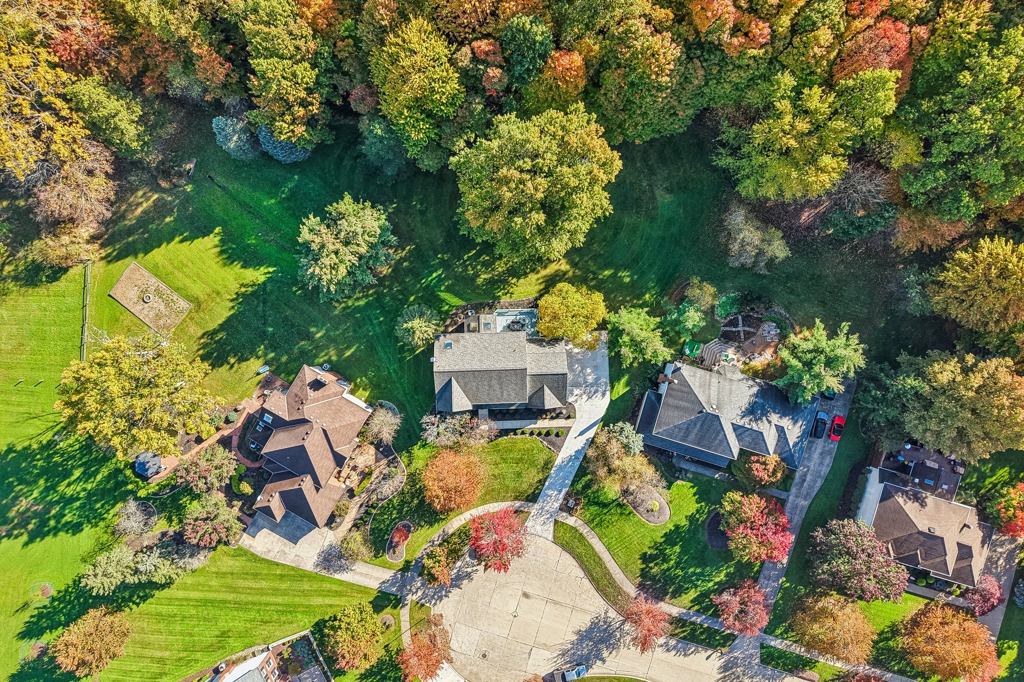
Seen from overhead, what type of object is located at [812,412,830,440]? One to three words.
car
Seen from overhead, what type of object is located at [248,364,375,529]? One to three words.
house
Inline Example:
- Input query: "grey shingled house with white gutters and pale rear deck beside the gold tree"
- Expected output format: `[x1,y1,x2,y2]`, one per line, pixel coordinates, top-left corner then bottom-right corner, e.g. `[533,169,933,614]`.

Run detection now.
[430,314,567,413]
